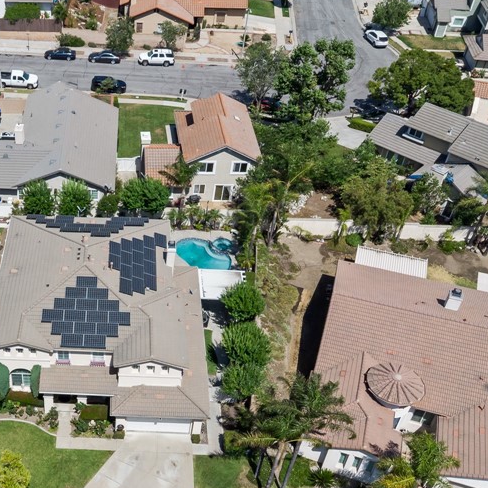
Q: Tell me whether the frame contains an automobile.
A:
Yes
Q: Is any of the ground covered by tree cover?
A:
Yes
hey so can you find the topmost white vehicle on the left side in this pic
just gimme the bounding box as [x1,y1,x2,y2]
[138,49,175,67]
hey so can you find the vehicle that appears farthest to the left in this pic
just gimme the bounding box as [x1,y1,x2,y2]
[0,70,39,89]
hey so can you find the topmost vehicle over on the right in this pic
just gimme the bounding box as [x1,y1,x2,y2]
[362,31,390,48]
